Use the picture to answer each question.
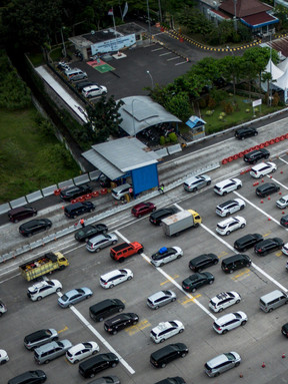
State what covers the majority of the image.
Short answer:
paved ground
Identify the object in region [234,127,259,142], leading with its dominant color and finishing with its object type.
black car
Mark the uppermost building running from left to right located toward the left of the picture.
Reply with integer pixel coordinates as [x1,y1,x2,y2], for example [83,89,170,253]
[67,22,146,60]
